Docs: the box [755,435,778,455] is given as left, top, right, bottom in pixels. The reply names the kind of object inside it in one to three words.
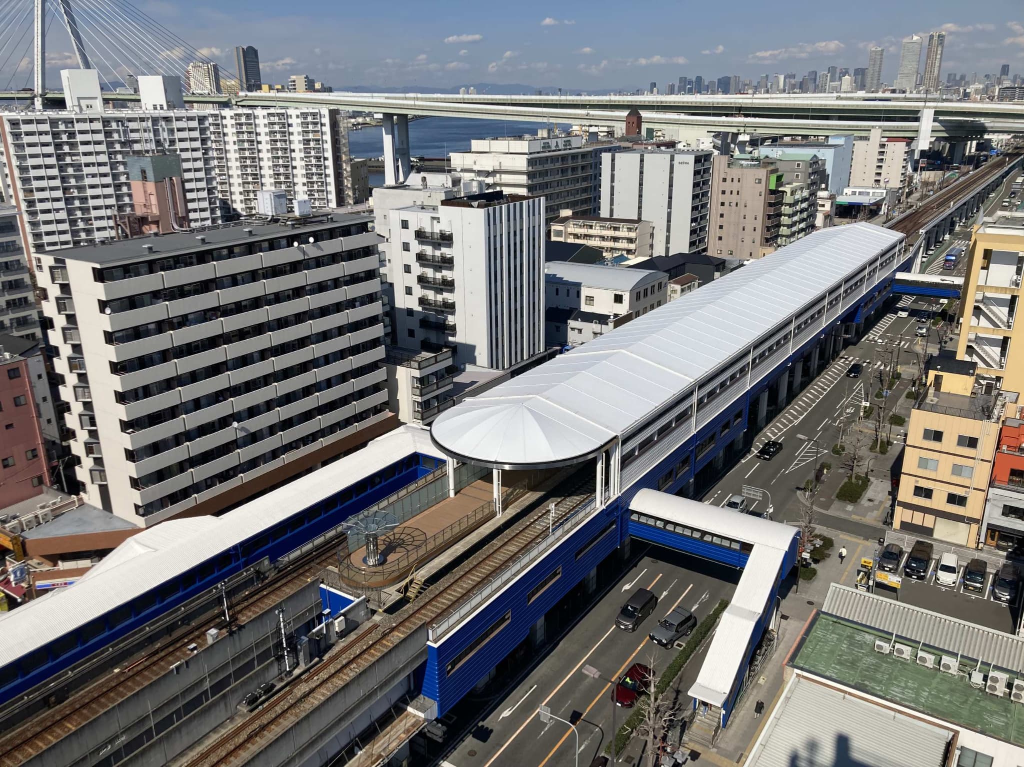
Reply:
car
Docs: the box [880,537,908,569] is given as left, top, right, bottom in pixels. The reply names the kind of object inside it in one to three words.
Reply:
car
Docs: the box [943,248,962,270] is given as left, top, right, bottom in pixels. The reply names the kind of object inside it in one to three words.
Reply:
vehicle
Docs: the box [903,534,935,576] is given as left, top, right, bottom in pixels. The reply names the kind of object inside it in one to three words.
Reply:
vehicle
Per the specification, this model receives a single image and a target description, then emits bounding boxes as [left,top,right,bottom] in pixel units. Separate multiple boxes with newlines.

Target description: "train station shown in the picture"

[284,223,908,758]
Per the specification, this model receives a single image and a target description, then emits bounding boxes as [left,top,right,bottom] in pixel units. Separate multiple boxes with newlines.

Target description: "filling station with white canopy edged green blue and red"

[847,186,893,216]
